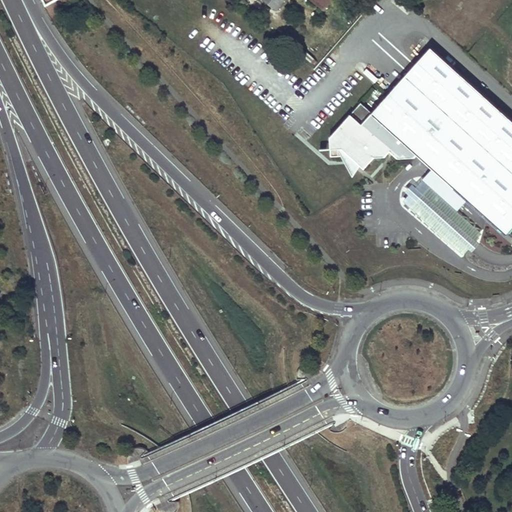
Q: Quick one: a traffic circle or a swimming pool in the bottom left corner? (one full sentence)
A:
What appears in the bottom left corner is a traffic circle.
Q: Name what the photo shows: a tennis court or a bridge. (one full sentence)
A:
The image shows a bridge.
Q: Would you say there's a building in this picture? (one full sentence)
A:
Yes, the picture does show a building.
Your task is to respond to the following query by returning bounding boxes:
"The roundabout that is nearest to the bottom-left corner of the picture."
[0,447,170,512]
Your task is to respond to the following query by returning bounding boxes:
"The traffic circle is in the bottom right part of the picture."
[306,286,512,512]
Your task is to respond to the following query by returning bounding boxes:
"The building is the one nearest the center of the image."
[320,114,388,178]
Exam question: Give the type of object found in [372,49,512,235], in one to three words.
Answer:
building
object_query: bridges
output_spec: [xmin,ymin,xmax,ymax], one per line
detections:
[142,380,334,503]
